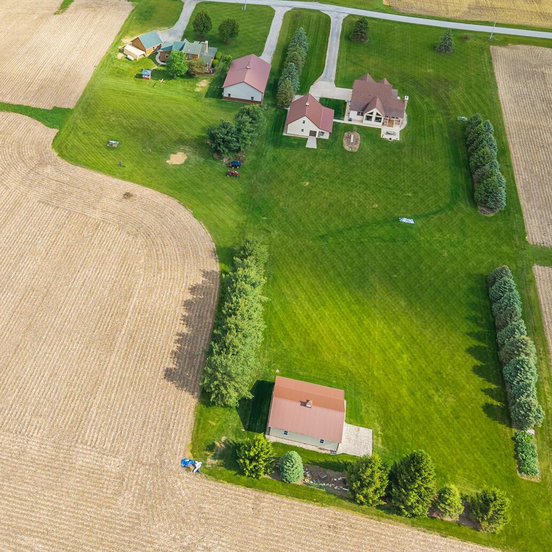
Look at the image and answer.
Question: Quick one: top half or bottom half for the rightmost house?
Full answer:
You can find the rightmost house in the top half.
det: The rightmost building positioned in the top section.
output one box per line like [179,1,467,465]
[349,73,411,129]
